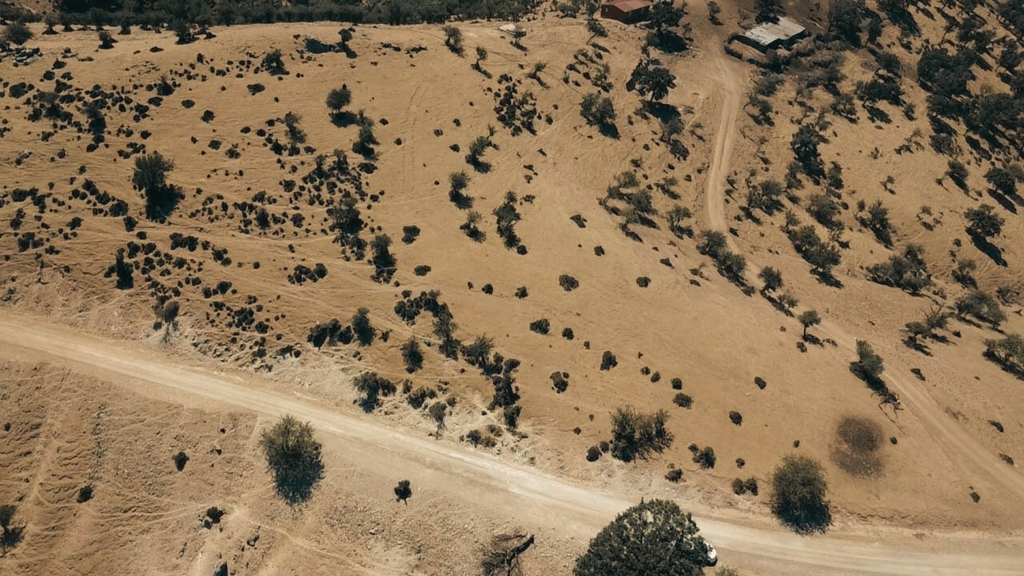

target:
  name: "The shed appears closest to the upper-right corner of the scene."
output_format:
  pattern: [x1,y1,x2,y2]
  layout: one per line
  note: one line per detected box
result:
[747,18,804,51]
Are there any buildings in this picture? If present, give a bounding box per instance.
[747,18,804,51]
[599,0,651,24]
